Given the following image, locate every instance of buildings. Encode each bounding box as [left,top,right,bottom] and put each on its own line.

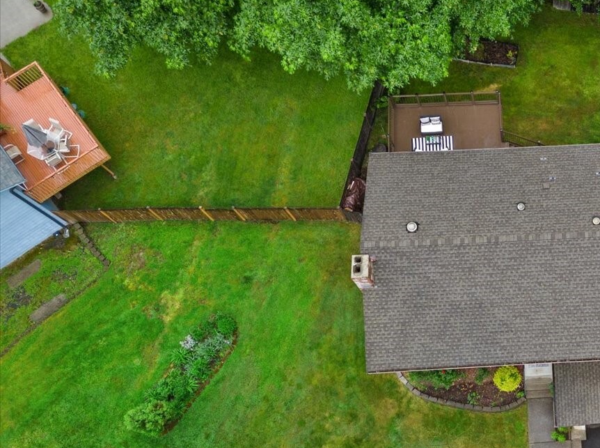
[351,141,600,427]
[0,140,67,269]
